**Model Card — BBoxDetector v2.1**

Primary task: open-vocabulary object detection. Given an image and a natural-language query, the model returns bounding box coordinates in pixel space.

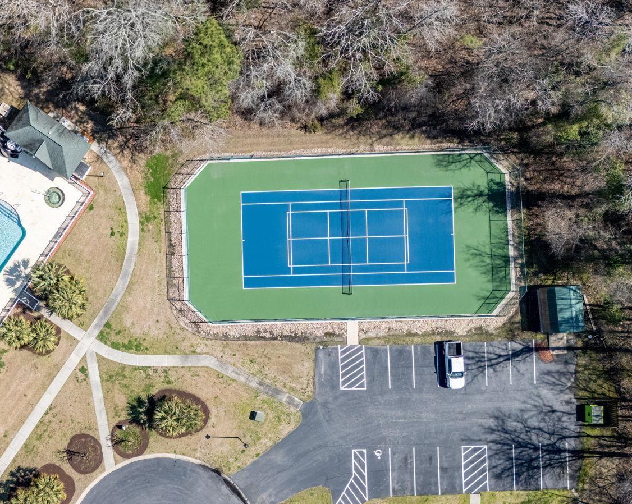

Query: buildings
[538,286,586,332]
[4,101,91,178]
